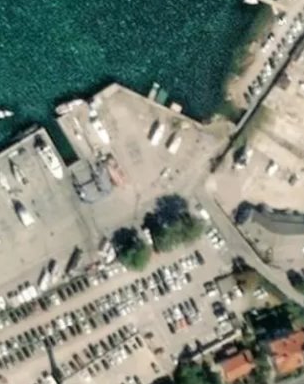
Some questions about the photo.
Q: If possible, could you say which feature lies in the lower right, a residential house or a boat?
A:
residential house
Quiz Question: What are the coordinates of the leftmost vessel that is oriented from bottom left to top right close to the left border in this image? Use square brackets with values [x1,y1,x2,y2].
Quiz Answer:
[10,124,37,144]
